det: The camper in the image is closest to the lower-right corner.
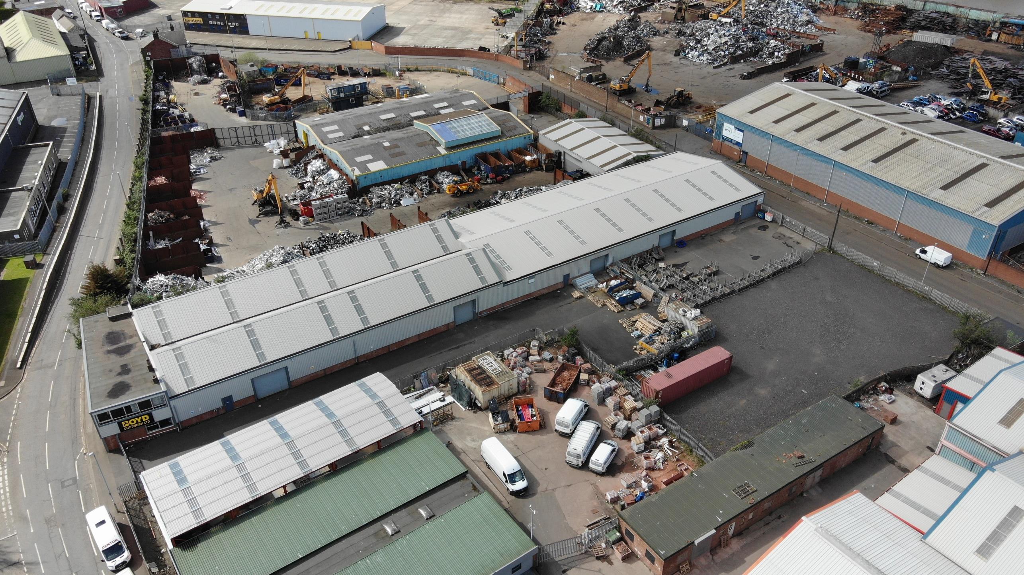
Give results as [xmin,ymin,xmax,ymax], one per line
[917,360,964,400]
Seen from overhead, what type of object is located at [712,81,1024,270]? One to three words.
warehouse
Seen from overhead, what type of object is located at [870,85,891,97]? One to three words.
vehicle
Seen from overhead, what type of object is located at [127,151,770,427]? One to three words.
shed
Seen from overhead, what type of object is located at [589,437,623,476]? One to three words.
van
